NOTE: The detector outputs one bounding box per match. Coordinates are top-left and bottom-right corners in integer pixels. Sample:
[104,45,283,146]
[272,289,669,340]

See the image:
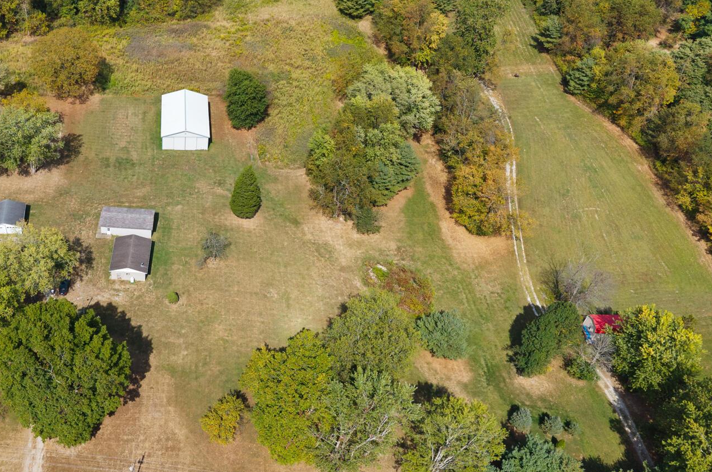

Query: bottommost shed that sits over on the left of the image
[109,232,153,280]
